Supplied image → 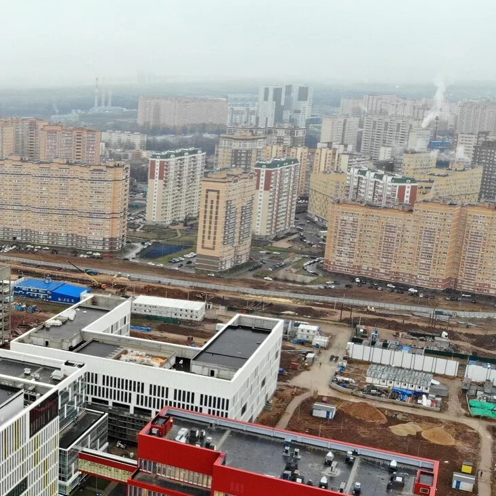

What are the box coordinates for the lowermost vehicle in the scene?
[109,439,139,454]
